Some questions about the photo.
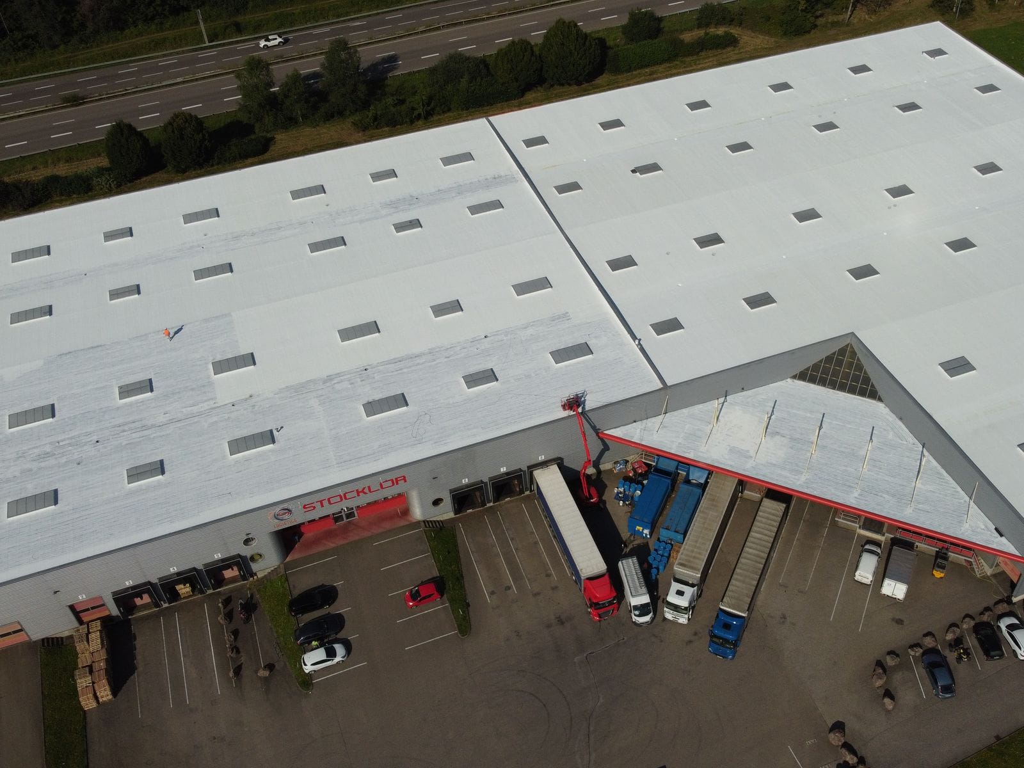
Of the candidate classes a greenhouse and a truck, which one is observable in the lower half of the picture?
truck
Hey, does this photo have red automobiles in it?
Yes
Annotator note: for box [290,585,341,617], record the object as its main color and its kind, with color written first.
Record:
black car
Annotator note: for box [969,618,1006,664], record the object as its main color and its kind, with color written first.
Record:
black car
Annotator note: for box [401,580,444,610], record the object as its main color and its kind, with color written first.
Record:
red car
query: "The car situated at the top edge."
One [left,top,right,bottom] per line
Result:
[259,33,283,47]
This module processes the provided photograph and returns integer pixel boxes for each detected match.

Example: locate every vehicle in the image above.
[706,497,787,659]
[296,612,347,644]
[922,646,961,698]
[969,618,1006,664]
[401,580,444,610]
[615,555,656,623]
[662,468,736,619]
[259,33,283,47]
[298,642,348,675]
[534,464,620,621]
[290,585,341,617]
[951,639,973,661]
[883,543,922,604]
[998,608,1024,655]
[933,545,953,576]
[853,545,884,589]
